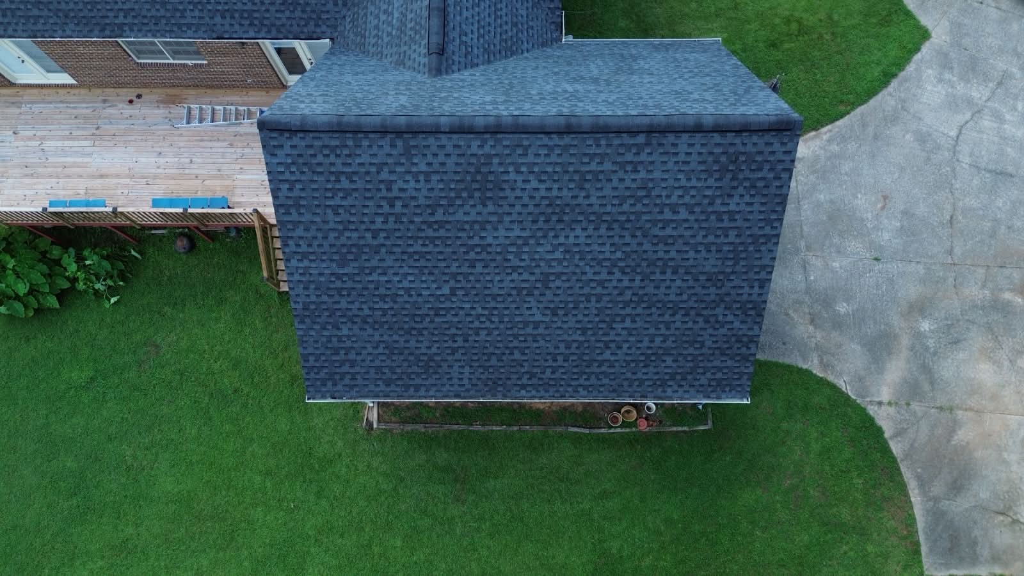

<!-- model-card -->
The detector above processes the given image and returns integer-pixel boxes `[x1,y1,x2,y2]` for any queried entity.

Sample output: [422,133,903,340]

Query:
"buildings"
[0,0,805,404]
